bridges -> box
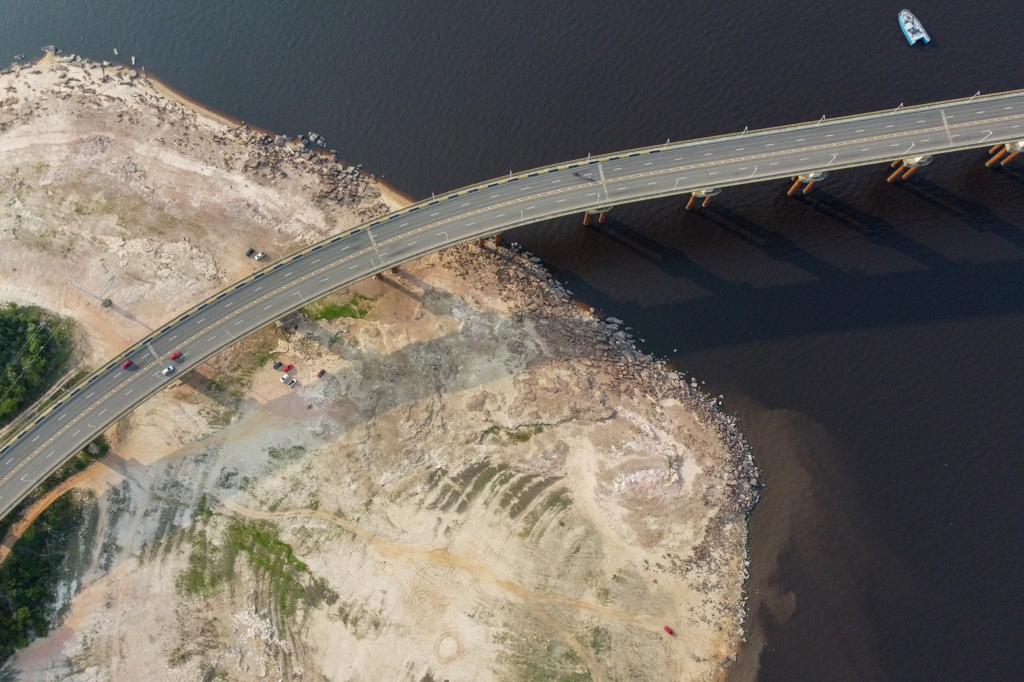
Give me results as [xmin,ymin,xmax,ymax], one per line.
[0,87,1024,522]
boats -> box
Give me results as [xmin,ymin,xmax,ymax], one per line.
[899,6,931,45]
